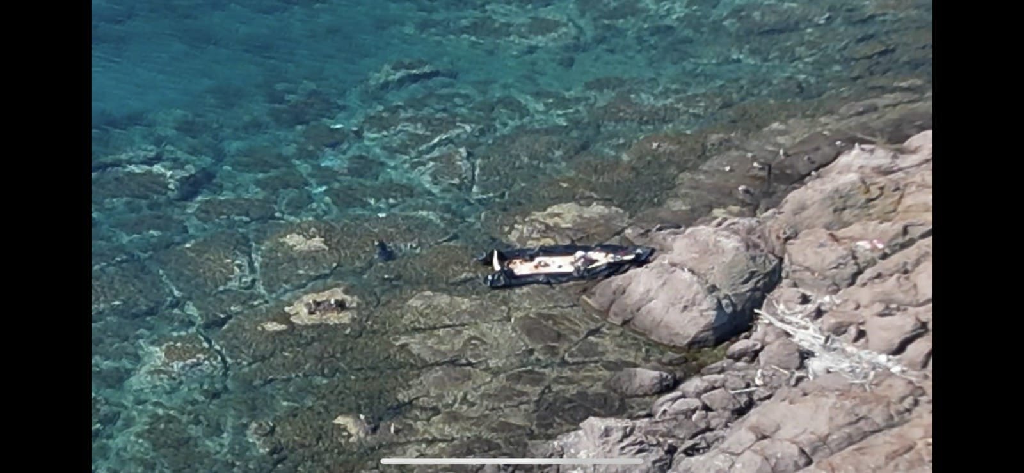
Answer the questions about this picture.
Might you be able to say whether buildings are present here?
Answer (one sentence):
No, this view has no building in it.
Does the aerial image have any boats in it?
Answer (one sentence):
Yes, I can see a boat in this picture.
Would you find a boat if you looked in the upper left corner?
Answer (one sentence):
No, I can find no boat in the upper left corner.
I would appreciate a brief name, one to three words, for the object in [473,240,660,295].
boat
